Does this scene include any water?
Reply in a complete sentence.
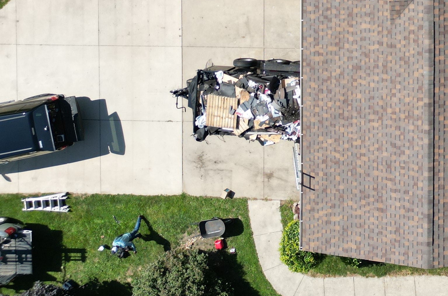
No, the scene doesn't show any water.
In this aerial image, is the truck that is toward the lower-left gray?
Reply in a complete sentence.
Yes, gray is the color of the truck that is toward the lower-left.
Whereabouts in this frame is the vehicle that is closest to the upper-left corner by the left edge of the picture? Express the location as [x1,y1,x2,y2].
[0,93,84,163]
